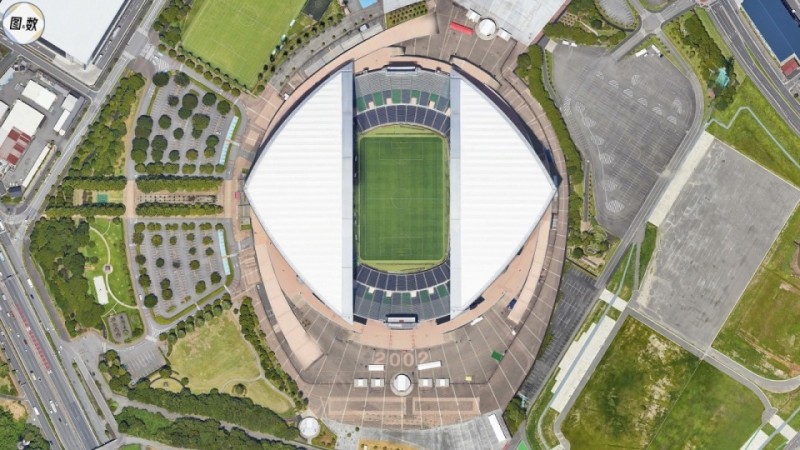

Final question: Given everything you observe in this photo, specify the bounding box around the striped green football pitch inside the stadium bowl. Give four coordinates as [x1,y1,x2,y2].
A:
[359,137,444,260]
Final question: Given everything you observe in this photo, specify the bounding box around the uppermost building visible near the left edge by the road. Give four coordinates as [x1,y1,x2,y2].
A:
[0,0,132,70]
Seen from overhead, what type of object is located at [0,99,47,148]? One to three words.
building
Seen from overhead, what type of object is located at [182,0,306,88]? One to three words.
sports field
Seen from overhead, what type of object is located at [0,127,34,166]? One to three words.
building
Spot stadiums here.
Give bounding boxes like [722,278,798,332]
[245,62,557,328]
